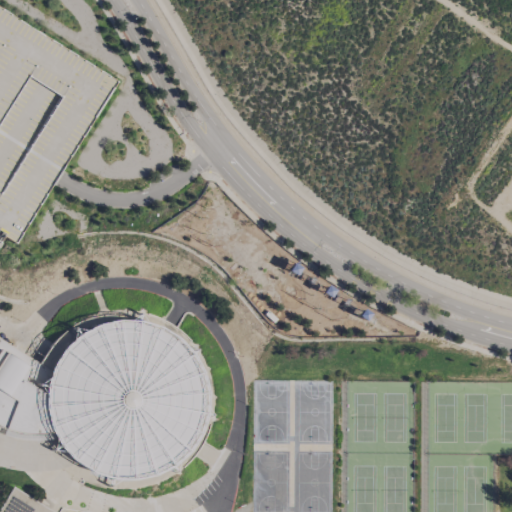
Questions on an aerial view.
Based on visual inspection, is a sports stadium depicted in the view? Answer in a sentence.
Yes, the photo shows a sports stadium.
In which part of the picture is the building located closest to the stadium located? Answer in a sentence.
You can find the building located closest to the stadium in the bottom left area of the picture.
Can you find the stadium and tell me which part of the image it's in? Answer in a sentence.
The stadium is located in the bottom left region of the scene.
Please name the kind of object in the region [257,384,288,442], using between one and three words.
basketball court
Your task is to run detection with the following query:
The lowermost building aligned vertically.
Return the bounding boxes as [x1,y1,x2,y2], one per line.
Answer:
[0,338,48,434]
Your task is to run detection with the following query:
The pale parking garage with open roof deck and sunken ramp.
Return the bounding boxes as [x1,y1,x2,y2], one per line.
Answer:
[0,6,120,244]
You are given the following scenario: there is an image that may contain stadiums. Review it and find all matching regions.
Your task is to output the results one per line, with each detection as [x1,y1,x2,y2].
[26,310,218,482]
